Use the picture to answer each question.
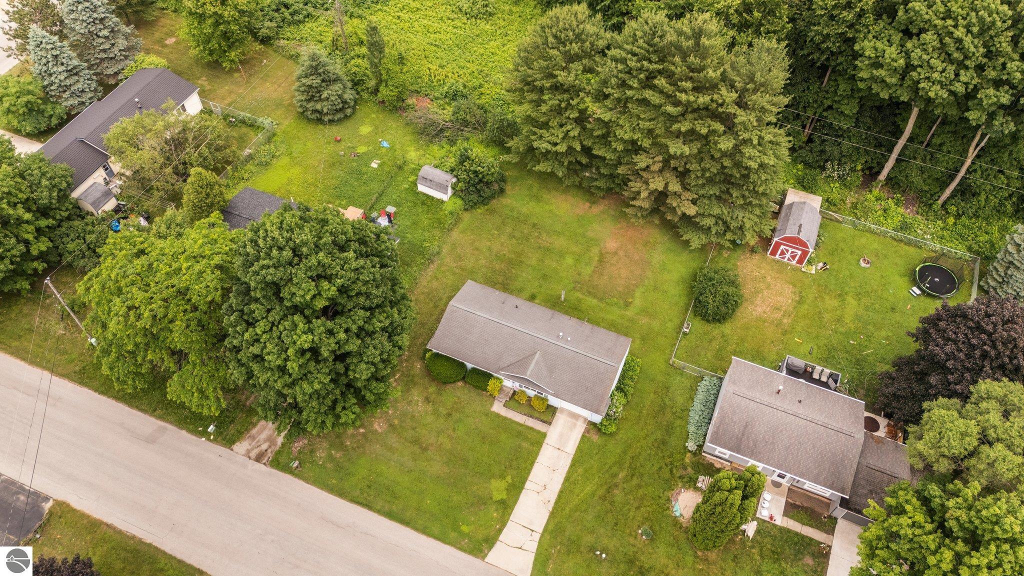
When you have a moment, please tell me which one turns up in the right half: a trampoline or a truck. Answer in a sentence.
Visible in the right half is a trampoline.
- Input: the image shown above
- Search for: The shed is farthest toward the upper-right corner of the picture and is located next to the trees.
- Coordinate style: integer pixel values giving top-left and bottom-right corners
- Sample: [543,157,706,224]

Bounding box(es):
[768,202,820,265]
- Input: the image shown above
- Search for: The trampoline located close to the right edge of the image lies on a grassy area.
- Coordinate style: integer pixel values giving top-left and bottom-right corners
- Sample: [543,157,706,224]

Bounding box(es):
[912,250,975,303]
